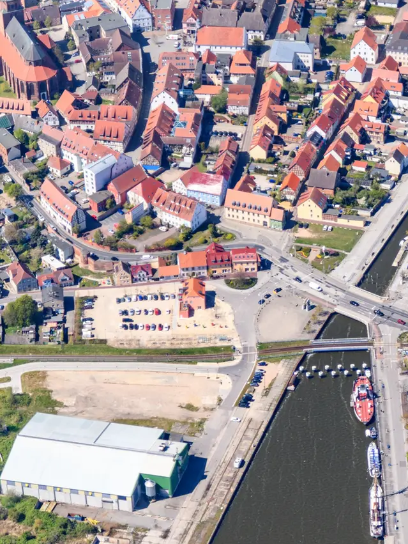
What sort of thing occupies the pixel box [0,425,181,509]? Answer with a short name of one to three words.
building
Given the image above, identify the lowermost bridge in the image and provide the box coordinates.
[303,334,379,353]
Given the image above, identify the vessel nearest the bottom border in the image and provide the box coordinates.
[369,470,384,544]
